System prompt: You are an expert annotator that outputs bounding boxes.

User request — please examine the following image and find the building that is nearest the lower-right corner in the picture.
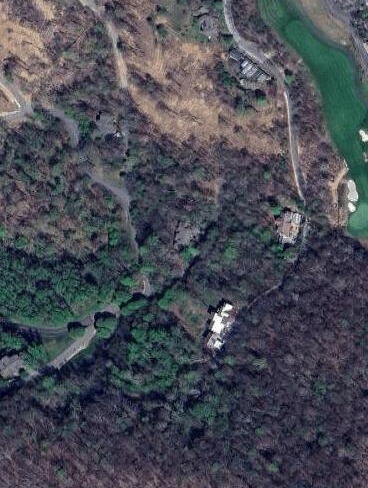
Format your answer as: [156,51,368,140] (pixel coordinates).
[207,303,238,346]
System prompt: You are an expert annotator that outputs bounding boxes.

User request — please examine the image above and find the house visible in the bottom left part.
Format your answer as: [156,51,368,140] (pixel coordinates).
[1,354,24,377]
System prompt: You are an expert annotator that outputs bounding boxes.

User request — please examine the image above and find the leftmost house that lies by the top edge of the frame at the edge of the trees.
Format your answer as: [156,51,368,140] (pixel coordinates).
[199,12,220,37]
